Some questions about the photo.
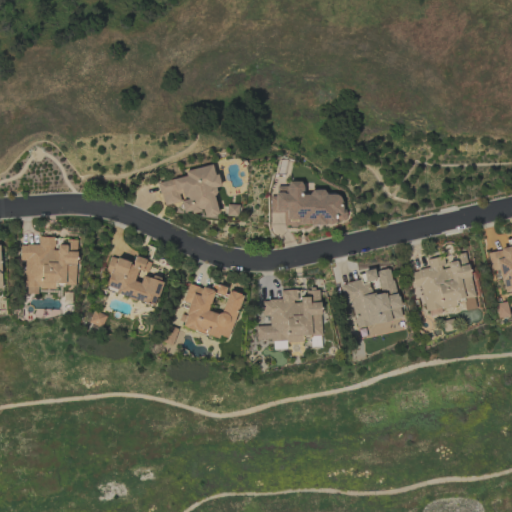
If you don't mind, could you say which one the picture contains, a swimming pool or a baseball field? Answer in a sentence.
Of the two, only a swimming pool appears.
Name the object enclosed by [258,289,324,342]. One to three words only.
house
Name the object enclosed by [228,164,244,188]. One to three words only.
swimming pool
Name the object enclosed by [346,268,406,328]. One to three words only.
house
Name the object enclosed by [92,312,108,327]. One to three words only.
gazebo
